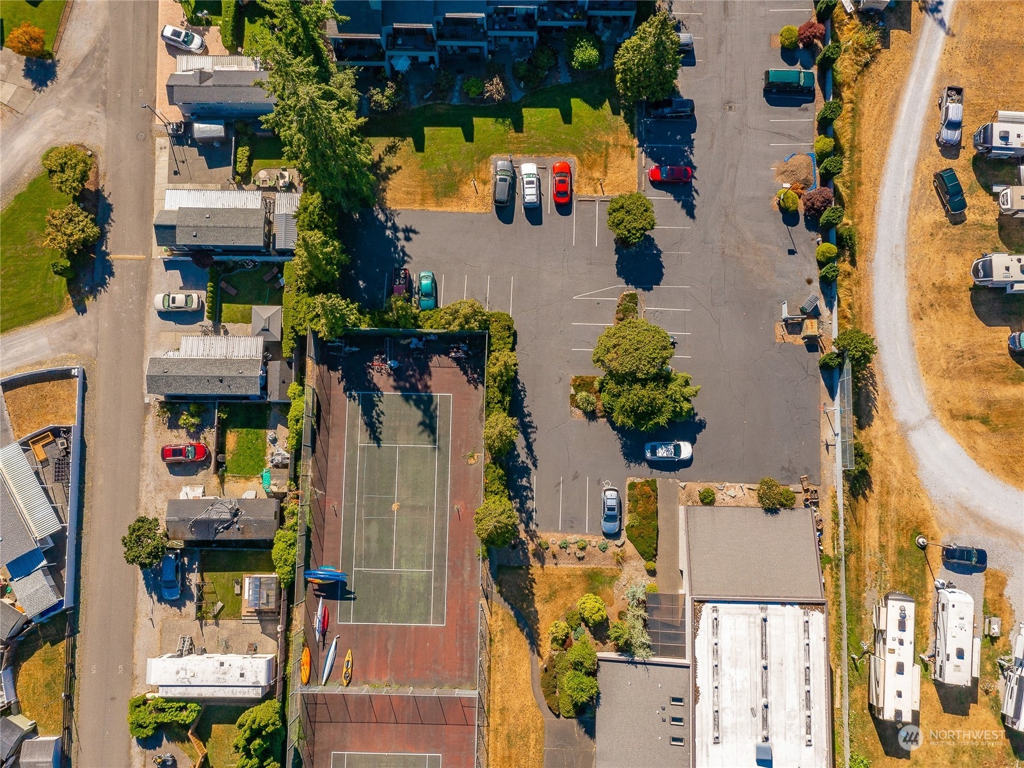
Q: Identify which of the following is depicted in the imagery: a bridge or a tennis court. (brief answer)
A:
tennis court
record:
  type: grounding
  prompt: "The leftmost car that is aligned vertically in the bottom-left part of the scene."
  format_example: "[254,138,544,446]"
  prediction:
[159,549,186,599]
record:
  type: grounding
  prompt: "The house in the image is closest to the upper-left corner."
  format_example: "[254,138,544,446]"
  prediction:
[164,70,283,113]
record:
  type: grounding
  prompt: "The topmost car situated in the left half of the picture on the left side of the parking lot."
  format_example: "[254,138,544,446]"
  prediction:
[162,27,208,57]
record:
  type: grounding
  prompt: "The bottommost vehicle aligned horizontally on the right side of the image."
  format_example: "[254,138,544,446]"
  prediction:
[937,547,985,569]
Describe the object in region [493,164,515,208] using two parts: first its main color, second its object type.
gray car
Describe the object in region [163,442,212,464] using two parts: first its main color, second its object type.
red car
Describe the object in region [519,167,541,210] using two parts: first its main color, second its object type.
white car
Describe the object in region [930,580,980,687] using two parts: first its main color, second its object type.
white trailer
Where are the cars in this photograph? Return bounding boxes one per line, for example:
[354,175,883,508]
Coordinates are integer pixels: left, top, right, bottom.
[519,167,541,210]
[600,485,623,535]
[416,271,437,309]
[1009,334,1024,352]
[647,99,695,122]
[760,70,813,94]
[162,27,208,57]
[551,164,573,205]
[159,549,186,599]
[929,167,965,215]
[493,164,515,208]
[643,440,692,462]
[163,442,212,464]
[647,164,693,185]
[157,292,205,313]
[937,547,985,569]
